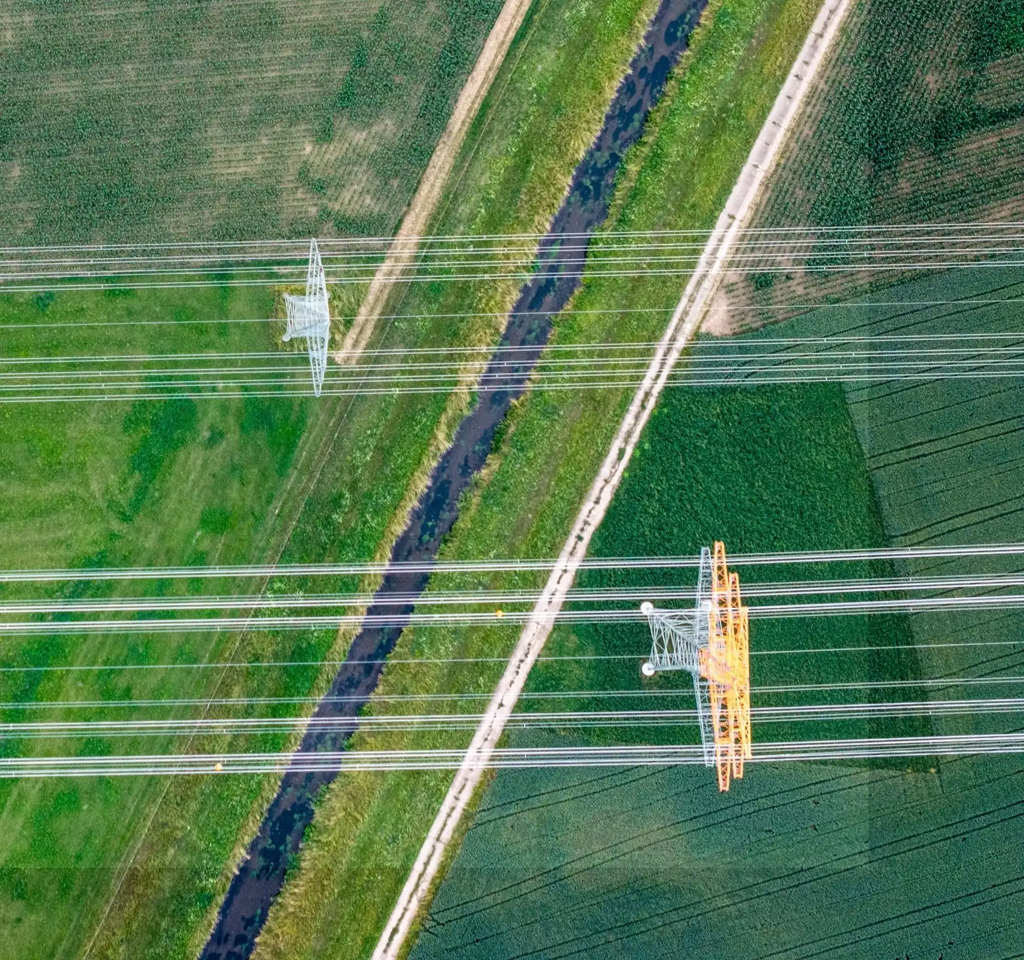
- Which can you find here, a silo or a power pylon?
power pylon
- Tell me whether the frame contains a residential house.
No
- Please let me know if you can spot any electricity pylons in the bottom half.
Yes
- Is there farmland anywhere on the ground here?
Yes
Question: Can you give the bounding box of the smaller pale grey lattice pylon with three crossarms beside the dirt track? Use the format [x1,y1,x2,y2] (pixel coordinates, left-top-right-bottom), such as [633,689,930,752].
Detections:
[281,238,334,397]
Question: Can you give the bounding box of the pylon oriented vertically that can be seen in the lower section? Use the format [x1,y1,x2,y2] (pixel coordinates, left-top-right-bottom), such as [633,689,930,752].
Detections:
[641,540,754,792]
